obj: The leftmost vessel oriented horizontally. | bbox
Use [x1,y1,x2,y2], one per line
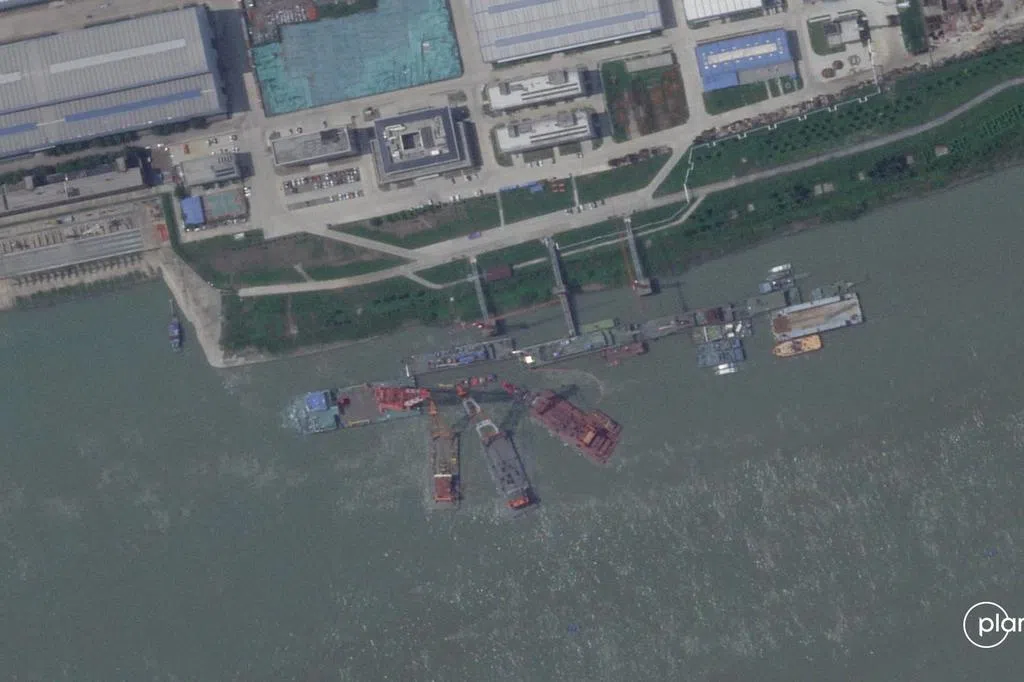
[284,361,447,434]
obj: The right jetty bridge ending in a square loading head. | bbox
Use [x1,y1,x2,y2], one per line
[623,218,654,297]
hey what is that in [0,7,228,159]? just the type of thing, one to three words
building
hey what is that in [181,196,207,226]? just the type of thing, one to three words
shed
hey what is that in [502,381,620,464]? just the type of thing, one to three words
ship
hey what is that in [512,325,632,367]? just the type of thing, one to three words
pier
